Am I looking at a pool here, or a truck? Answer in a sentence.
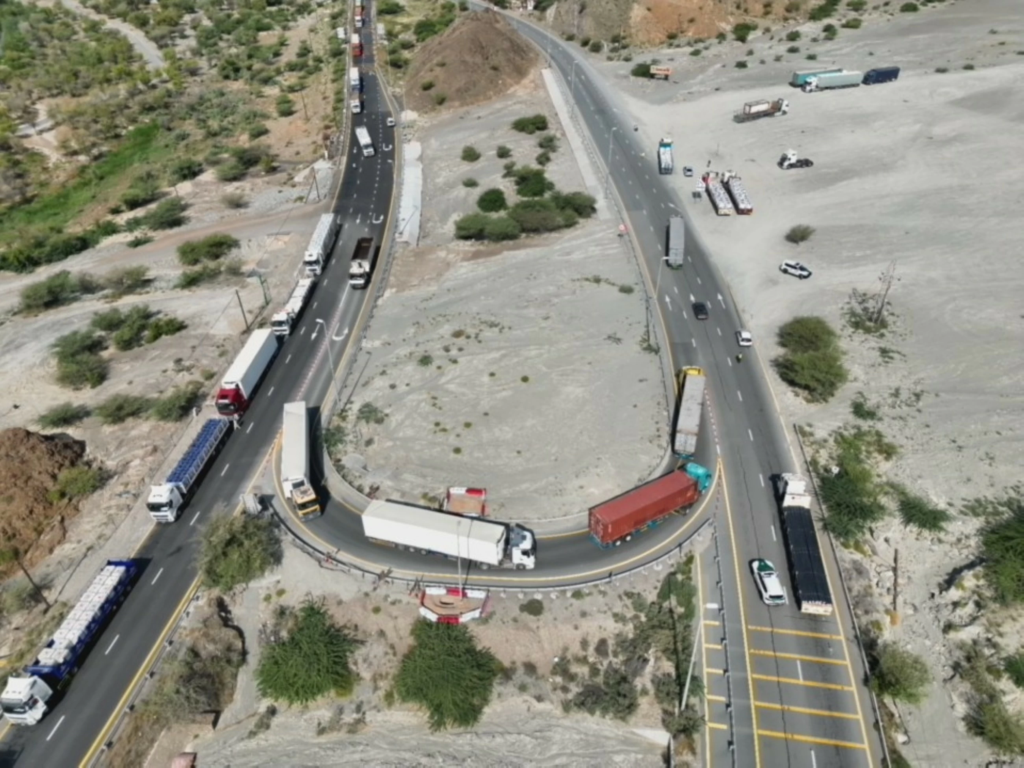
I can see a truck in this picture.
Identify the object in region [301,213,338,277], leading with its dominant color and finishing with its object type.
white truck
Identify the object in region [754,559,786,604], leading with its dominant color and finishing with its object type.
white car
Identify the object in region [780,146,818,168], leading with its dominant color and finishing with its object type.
white truck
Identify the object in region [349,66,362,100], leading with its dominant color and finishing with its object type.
white vehicle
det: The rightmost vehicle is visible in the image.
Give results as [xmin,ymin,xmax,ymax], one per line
[860,66,902,87]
